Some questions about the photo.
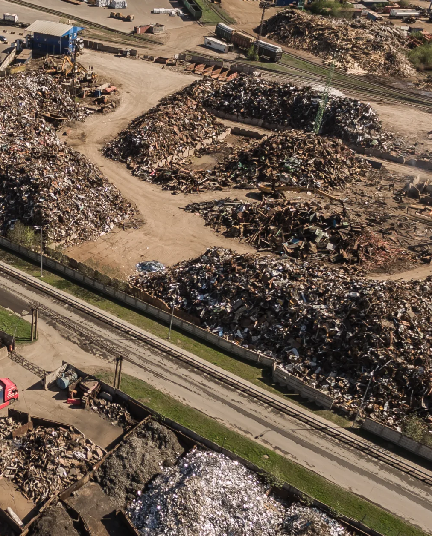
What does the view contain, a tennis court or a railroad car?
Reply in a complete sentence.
I can see a railroad car in this picture.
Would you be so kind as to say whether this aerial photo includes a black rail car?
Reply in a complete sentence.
Yes, the photo shows a black rail car.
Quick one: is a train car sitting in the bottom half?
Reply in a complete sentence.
No, I see no train car in the bottom half.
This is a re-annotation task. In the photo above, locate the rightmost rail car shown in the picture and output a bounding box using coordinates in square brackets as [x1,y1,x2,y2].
[257,46,283,63]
